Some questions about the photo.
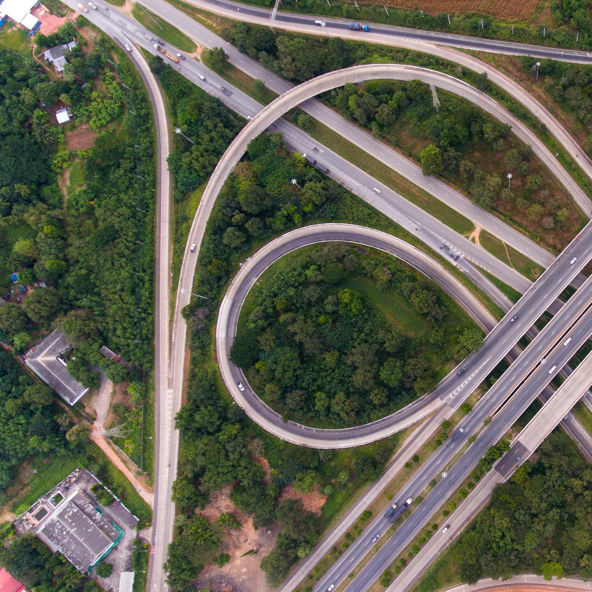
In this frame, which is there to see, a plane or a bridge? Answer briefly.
bridge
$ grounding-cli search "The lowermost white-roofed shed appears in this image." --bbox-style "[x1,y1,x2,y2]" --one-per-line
[118,571,139,592]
